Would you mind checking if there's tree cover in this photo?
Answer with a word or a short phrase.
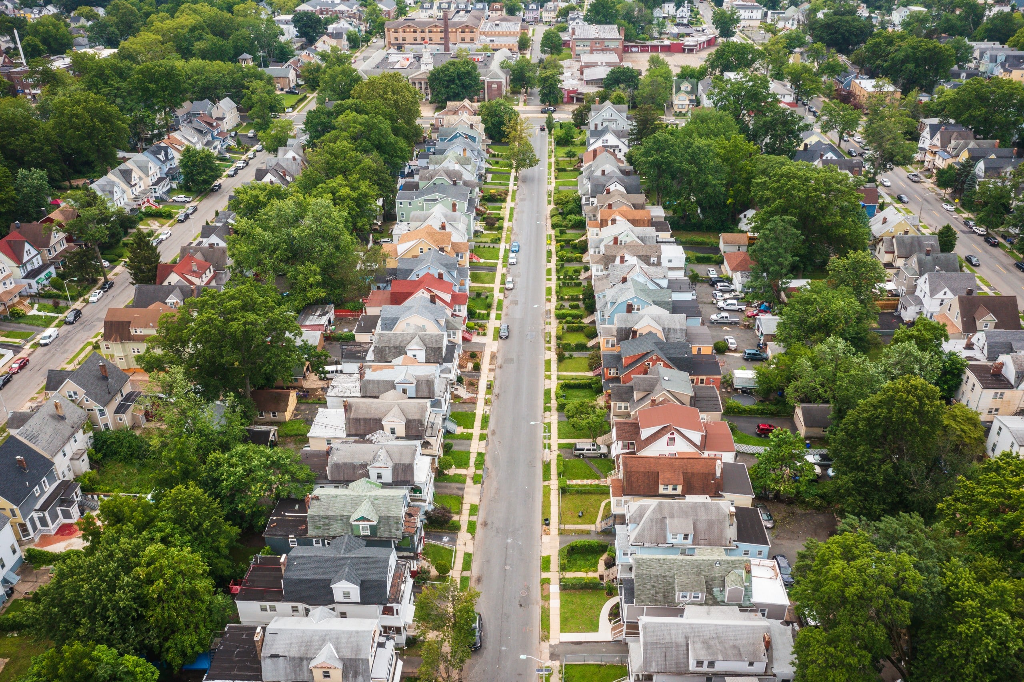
Yes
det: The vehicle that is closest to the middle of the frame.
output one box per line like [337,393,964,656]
[498,324,510,339]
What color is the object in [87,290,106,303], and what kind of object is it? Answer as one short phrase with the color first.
white vehicle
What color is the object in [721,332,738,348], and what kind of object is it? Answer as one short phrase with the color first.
white car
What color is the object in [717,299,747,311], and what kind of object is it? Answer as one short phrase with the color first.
white vehicle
